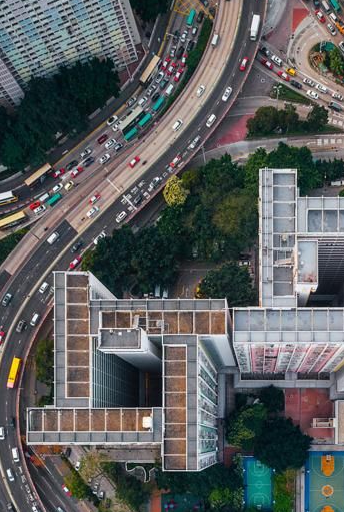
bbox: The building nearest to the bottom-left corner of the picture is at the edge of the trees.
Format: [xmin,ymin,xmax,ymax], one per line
[26,270,236,471]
